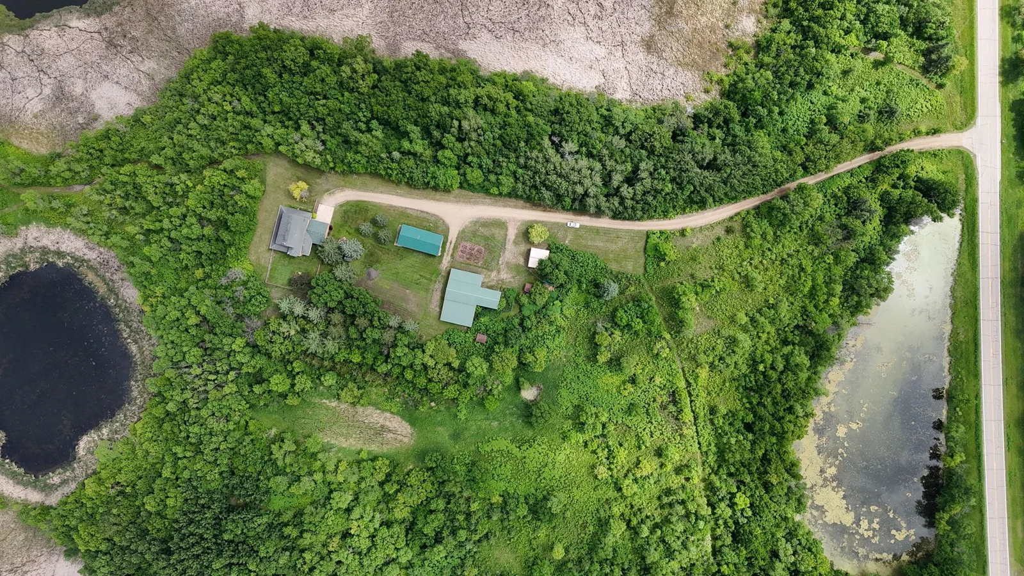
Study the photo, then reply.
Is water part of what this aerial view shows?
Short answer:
Yes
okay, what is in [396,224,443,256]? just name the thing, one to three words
shed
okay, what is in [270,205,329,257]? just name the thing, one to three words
house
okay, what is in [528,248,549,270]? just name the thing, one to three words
shed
